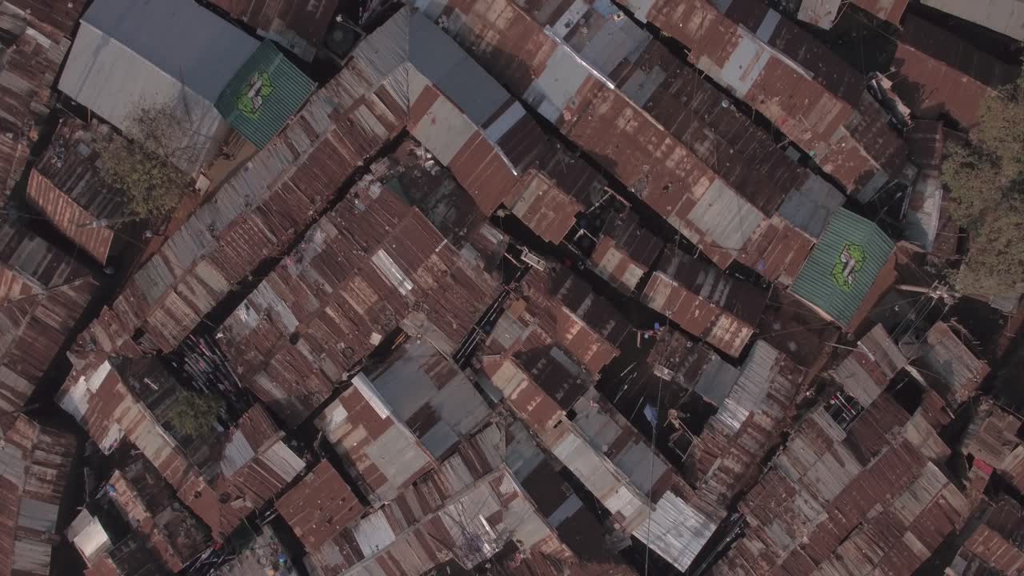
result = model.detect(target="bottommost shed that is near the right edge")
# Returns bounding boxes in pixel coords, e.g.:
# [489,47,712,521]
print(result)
[931,543,992,576]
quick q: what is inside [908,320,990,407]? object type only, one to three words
shed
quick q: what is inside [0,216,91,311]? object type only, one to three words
house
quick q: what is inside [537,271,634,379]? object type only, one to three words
house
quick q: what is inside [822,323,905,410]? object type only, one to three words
shed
